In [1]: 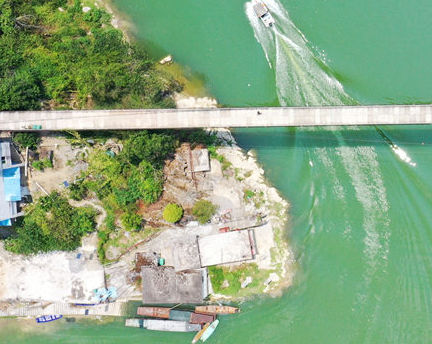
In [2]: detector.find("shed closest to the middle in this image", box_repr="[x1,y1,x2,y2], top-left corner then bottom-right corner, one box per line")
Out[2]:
[193,148,213,171]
